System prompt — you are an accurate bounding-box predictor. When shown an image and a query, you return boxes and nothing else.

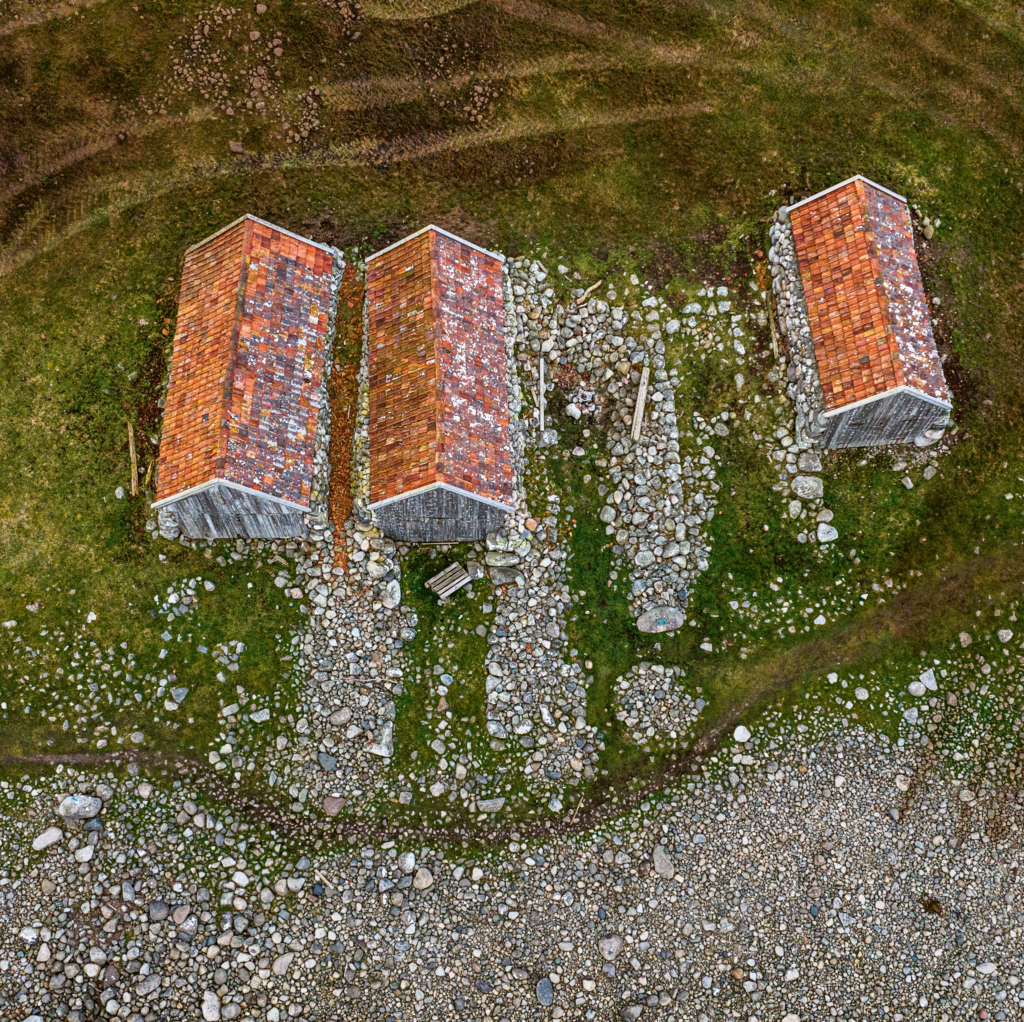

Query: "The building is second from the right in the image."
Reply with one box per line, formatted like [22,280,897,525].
[355,221,529,551]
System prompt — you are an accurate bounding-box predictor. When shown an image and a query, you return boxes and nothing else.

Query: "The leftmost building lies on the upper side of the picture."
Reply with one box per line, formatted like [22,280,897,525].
[145,211,344,553]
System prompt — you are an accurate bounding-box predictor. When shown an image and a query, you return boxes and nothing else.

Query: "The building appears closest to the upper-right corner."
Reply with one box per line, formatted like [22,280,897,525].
[768,172,960,461]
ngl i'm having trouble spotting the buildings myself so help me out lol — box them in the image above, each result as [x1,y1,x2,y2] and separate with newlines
[145,211,344,553]
[768,172,960,461]
[355,221,529,551]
